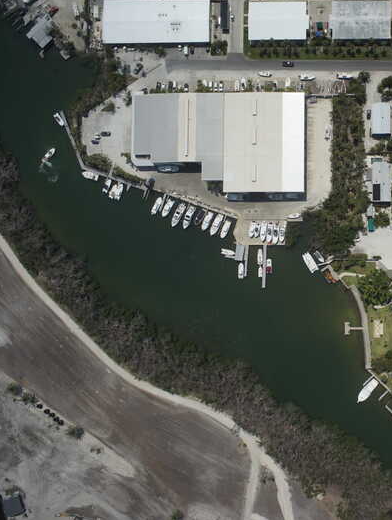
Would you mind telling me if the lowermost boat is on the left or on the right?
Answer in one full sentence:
The lowermost boat sits on the right side.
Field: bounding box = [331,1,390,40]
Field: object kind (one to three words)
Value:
building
